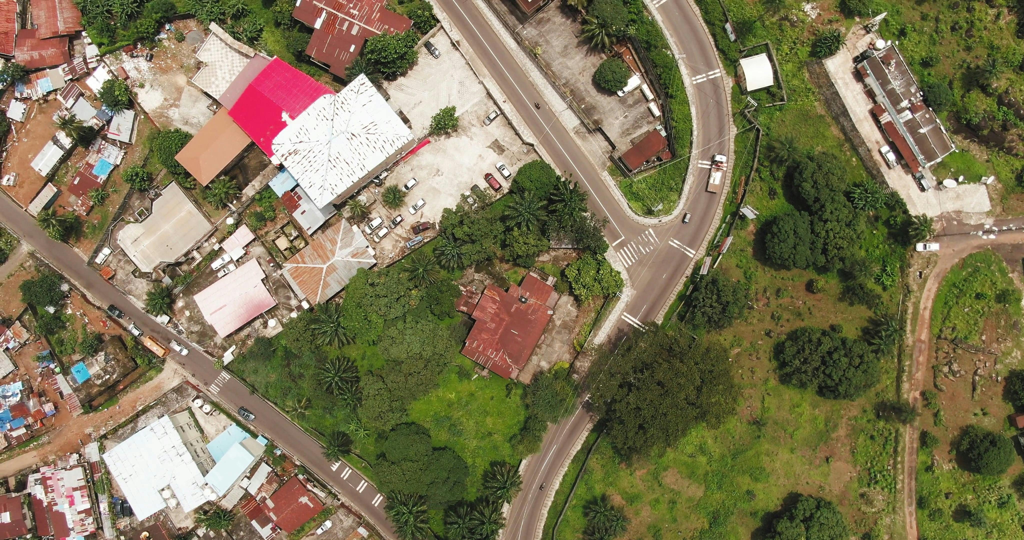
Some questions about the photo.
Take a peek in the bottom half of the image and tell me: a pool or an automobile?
automobile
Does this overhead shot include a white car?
Yes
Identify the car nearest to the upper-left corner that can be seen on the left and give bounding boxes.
[92,247,113,265]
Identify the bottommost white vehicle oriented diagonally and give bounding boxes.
[314,518,334,536]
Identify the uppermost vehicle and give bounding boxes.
[423,41,442,60]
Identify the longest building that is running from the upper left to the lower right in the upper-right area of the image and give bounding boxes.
[855,45,955,173]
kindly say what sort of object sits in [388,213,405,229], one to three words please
car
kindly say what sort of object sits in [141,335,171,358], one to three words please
vehicle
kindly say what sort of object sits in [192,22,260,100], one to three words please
building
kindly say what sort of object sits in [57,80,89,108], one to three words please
shed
